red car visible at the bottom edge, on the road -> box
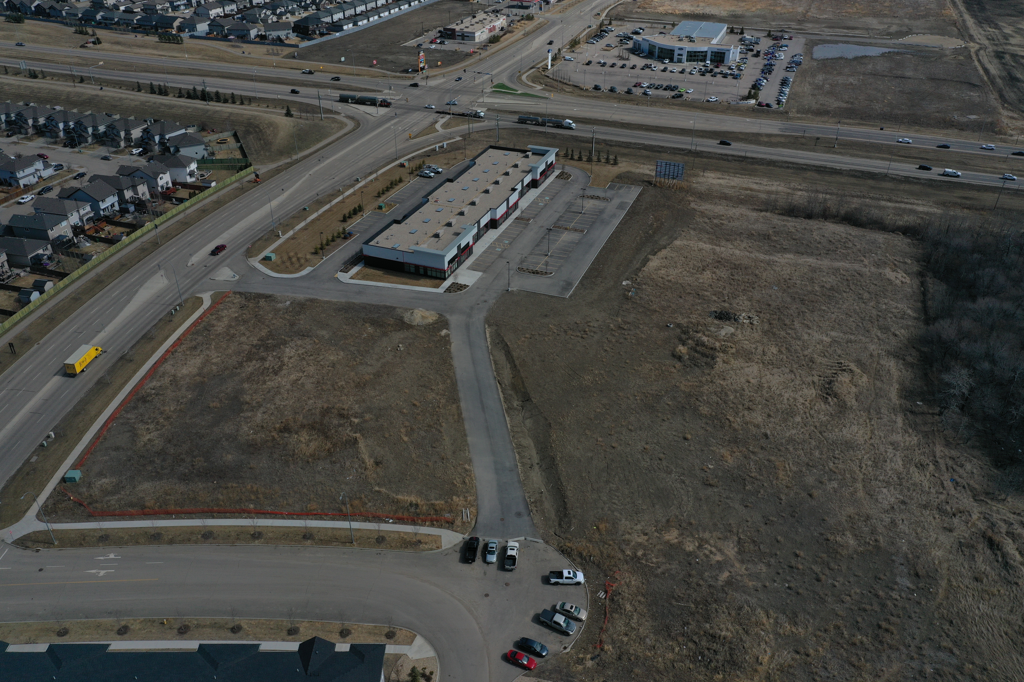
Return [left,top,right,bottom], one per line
[504,646,538,671]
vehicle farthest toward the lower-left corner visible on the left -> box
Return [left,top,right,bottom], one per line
[62,344,103,377]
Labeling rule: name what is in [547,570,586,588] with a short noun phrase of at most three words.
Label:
vehicle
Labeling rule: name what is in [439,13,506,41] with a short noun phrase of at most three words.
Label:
building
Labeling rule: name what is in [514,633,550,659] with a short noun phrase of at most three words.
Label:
car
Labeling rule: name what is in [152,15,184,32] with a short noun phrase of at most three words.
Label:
house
